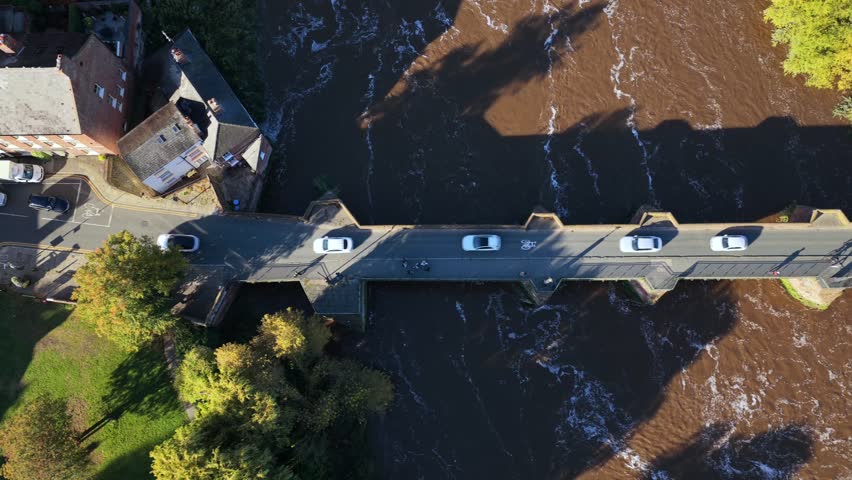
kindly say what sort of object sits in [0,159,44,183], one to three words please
vehicle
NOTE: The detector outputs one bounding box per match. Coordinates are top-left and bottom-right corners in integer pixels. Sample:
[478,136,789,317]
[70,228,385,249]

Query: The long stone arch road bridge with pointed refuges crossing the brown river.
[220,195,852,329]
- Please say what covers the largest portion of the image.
water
